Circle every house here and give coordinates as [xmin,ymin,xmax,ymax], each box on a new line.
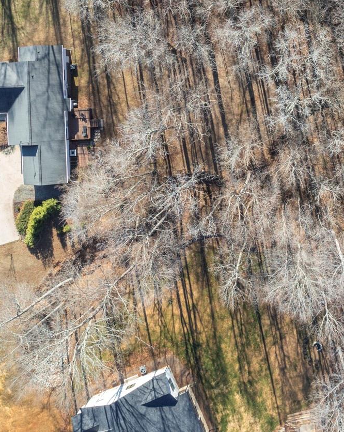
[0,44,76,186]
[70,366,204,432]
